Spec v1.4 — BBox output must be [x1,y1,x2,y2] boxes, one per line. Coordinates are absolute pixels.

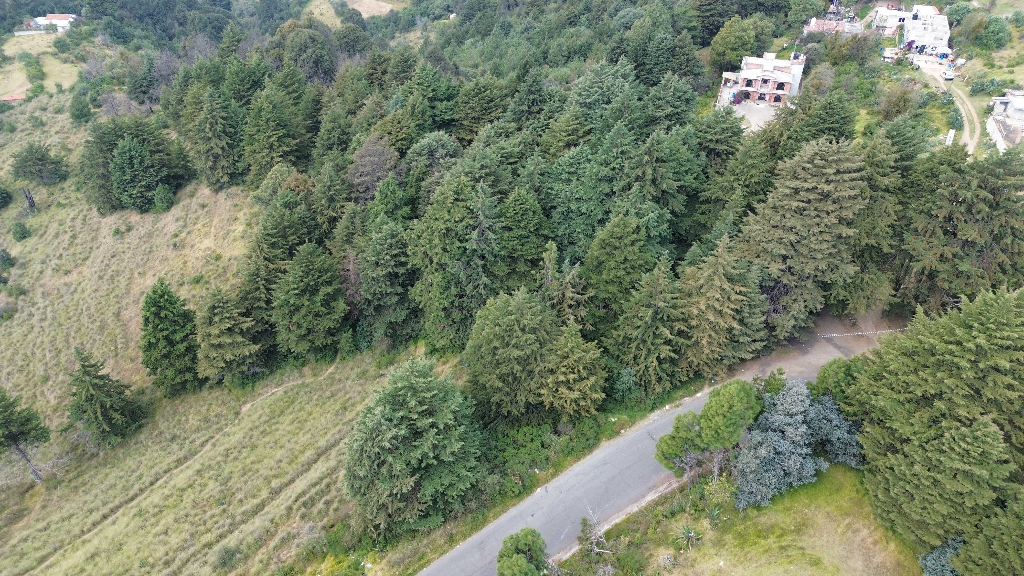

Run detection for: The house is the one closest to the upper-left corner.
[30,10,78,30]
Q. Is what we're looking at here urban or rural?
rural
